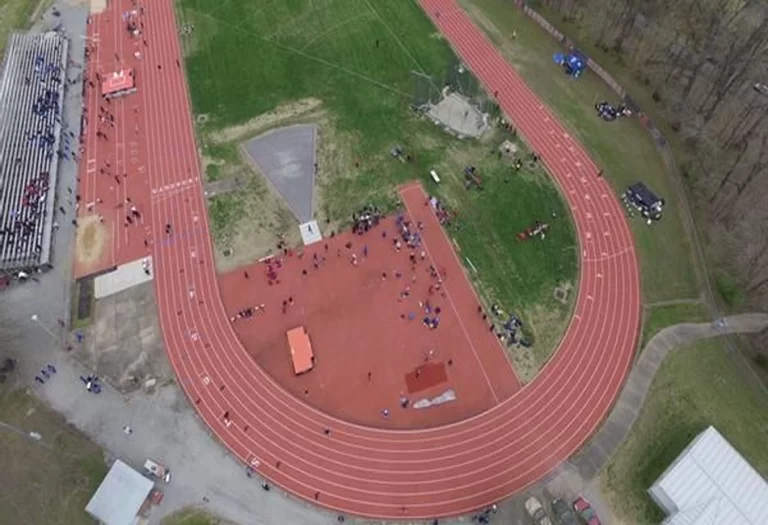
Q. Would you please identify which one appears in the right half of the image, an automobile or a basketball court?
automobile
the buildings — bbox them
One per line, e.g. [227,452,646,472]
[652,426,768,525]
[82,459,163,525]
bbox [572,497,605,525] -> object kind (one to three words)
car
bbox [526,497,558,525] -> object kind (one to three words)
car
